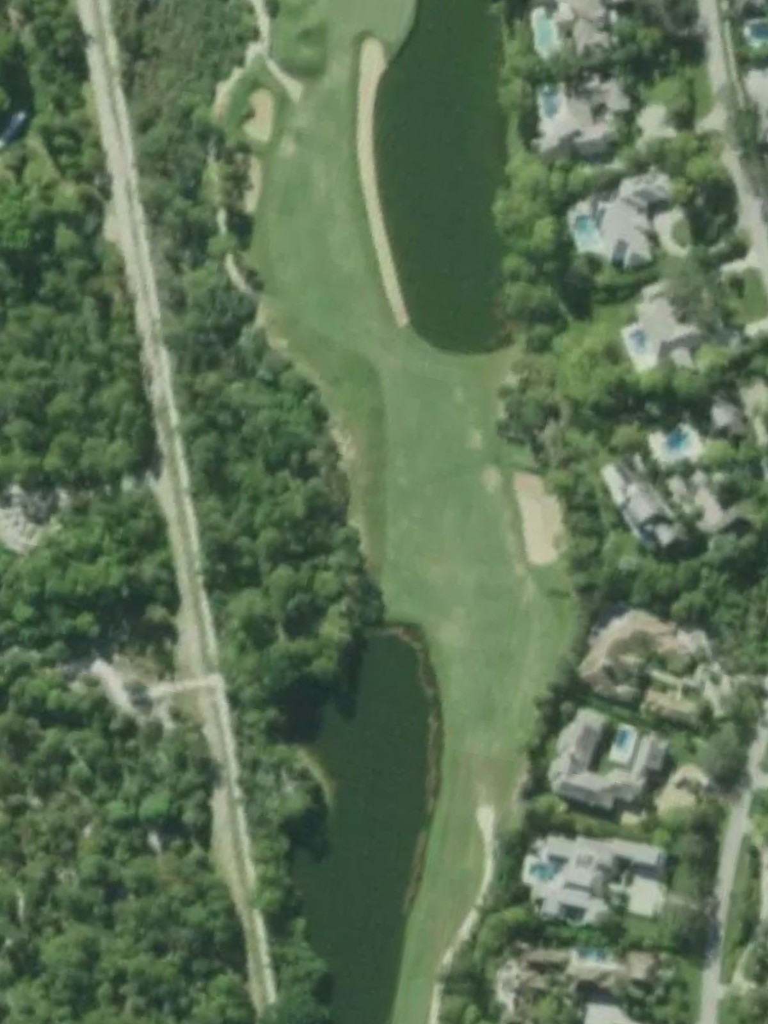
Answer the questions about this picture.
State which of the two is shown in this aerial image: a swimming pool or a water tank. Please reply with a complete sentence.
The one in the frame is a swimming pool.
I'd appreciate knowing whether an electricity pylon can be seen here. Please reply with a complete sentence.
No, I can see no electricity pylon in this picture.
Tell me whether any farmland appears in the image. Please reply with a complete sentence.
No, farmland can't be seen anywhere here.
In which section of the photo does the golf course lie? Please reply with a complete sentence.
The golf course sits in the center section of the image.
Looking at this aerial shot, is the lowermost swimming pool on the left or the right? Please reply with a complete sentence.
The lowermost swimming pool appears in the right half of the scene.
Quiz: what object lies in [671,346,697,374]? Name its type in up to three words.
building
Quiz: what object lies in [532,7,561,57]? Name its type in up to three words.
swimming pool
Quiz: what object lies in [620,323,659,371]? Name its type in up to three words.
swimming pool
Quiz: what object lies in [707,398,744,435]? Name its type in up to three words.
house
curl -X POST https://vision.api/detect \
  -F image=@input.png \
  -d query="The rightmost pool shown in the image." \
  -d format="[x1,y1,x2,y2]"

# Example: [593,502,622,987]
[744,18,768,49]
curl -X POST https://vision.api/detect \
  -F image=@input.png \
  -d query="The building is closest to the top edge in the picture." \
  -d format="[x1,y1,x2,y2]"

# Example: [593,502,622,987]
[557,0,613,52]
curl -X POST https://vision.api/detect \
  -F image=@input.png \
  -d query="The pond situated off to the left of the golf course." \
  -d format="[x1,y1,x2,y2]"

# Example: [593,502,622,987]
[0,55,29,153]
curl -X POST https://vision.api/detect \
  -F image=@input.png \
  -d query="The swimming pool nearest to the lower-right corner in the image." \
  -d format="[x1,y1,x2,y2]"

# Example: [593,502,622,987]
[569,944,624,964]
